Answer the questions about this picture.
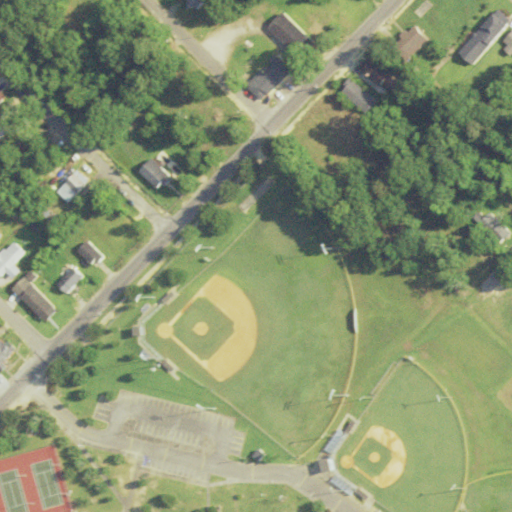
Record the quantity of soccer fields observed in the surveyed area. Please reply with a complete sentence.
I count no soccer fields.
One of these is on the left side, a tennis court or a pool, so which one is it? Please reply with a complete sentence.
There is a tennis court on the left side.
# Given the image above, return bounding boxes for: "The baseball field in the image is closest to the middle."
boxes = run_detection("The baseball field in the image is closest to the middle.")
[144,192,358,460]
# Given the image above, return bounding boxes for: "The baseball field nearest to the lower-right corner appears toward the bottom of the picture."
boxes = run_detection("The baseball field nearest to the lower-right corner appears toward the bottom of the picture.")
[336,358,468,512]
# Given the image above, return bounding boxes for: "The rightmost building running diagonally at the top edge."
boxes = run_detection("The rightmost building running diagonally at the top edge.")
[460,10,511,64]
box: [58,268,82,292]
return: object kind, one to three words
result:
house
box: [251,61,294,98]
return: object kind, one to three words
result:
house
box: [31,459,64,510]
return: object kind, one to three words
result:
tennis court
